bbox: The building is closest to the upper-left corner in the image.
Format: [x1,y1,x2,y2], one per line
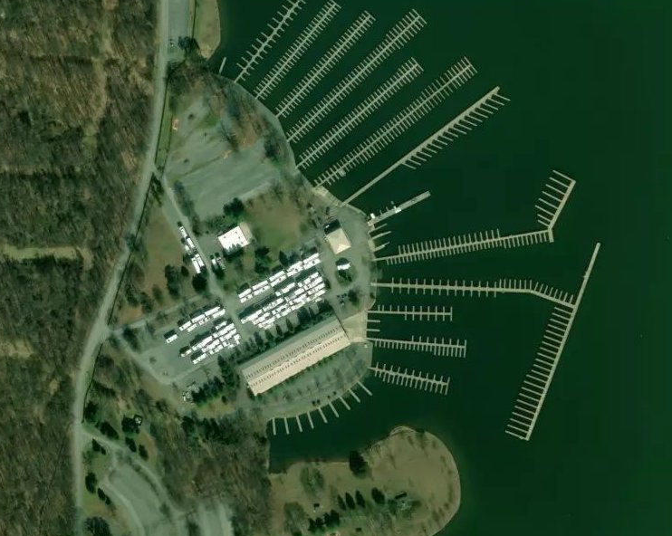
[220,223,255,252]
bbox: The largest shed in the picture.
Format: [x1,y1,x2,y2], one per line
[239,316,350,395]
